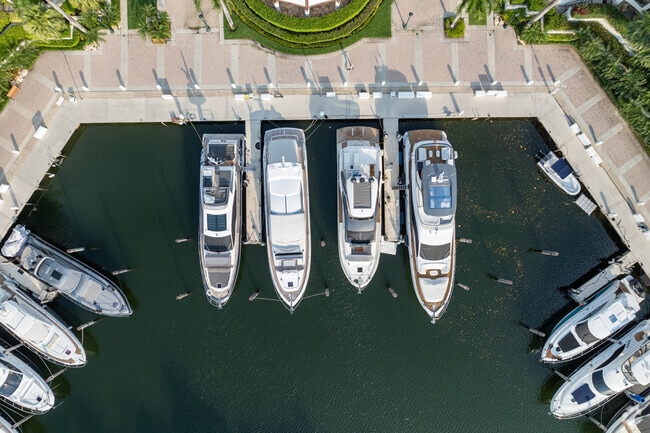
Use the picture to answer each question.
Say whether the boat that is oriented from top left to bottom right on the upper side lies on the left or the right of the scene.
right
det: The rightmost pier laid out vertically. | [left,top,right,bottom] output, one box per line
[381,120,402,241]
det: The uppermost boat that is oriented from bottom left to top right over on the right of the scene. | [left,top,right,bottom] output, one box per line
[537,270,649,364]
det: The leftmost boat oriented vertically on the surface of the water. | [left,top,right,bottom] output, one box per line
[199,133,246,312]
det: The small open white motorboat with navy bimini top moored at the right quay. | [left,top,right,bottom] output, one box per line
[534,149,582,192]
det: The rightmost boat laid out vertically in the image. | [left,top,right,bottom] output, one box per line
[399,131,456,323]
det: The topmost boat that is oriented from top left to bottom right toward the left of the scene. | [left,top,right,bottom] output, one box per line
[18,232,135,316]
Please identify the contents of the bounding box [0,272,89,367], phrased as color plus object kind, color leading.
white boat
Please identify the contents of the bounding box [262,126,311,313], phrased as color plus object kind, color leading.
white boat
